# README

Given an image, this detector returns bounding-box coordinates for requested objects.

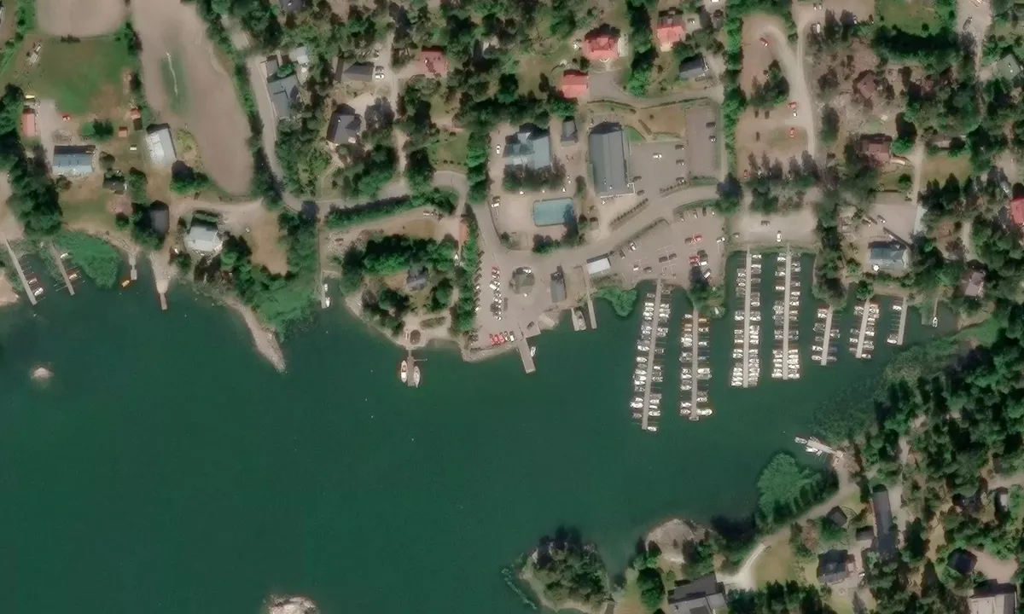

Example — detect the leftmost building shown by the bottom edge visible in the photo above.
[665,574,730,614]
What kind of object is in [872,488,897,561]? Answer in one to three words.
barn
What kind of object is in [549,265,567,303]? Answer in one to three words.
building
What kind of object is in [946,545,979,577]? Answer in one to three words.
house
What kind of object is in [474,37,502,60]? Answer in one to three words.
house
